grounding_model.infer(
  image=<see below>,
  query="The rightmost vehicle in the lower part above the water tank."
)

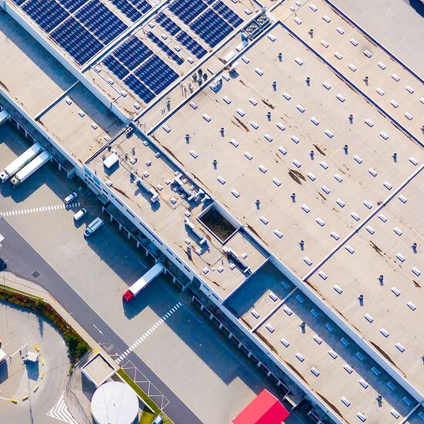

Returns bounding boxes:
[121,265,163,303]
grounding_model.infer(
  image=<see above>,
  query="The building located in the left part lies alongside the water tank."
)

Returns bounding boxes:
[80,353,117,389]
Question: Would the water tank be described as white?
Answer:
Yes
